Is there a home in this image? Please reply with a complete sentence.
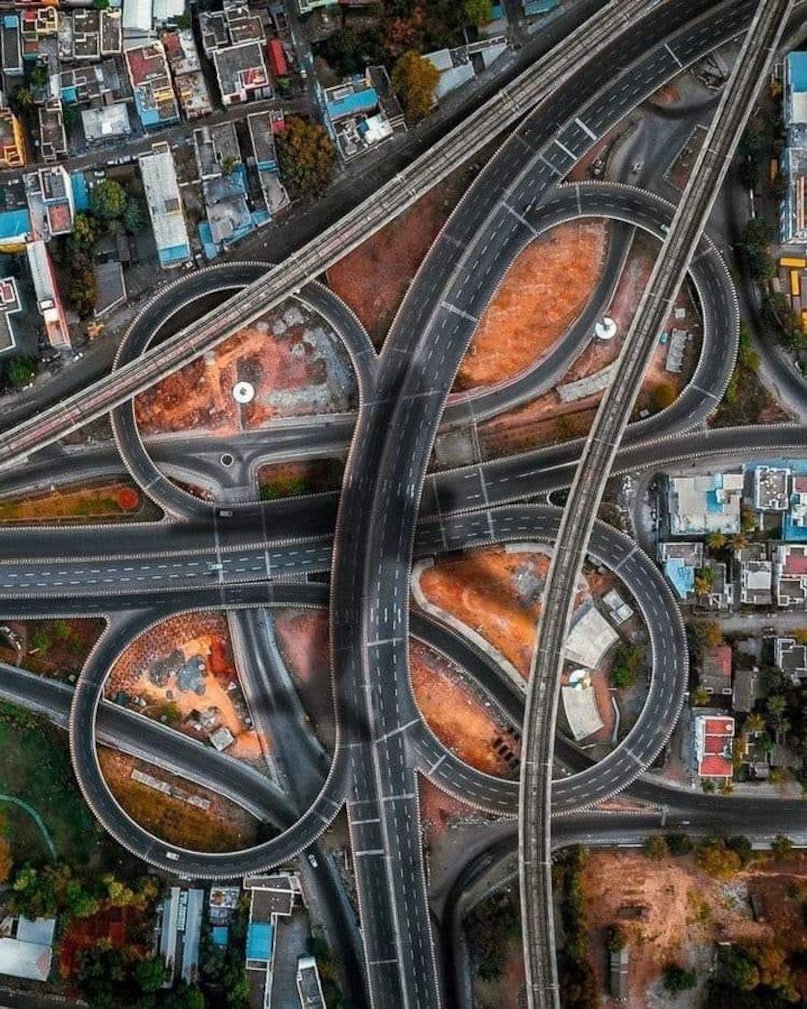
Yes, I can see a home in this picture.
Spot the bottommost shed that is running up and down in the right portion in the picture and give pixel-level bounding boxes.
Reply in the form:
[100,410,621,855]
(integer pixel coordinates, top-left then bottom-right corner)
[608,940,630,999]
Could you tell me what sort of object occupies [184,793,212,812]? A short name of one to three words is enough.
shed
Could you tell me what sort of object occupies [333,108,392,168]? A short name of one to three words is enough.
house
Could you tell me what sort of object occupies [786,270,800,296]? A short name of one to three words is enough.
vehicle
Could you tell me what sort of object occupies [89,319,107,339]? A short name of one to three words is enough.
work vehicle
